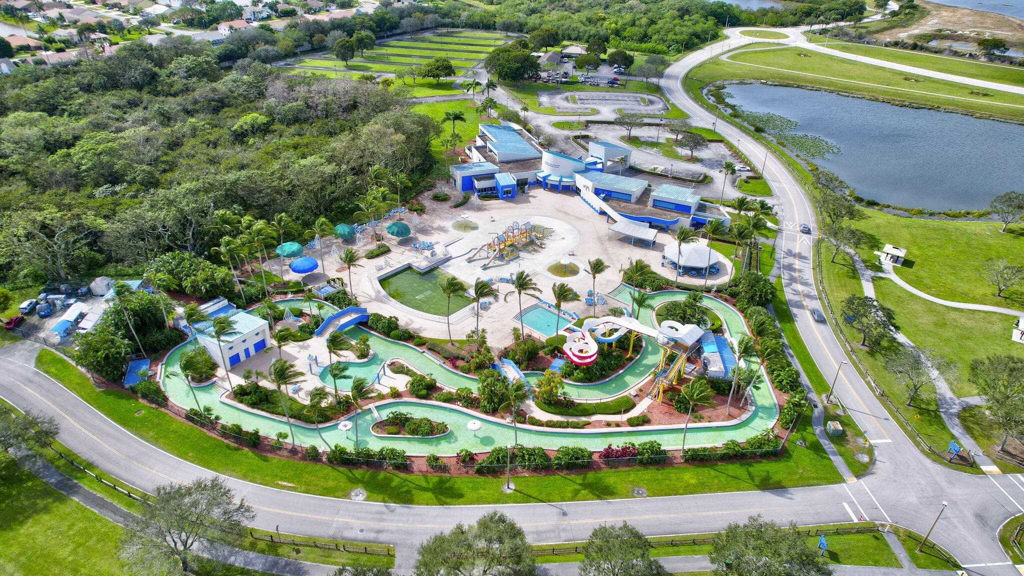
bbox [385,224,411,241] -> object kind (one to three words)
umbrella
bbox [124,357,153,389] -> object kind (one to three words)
shed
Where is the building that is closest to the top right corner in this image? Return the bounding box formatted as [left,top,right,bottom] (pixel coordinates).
[881,243,907,266]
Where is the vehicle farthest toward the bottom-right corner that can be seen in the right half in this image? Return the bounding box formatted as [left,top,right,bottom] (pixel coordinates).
[810,304,828,320]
